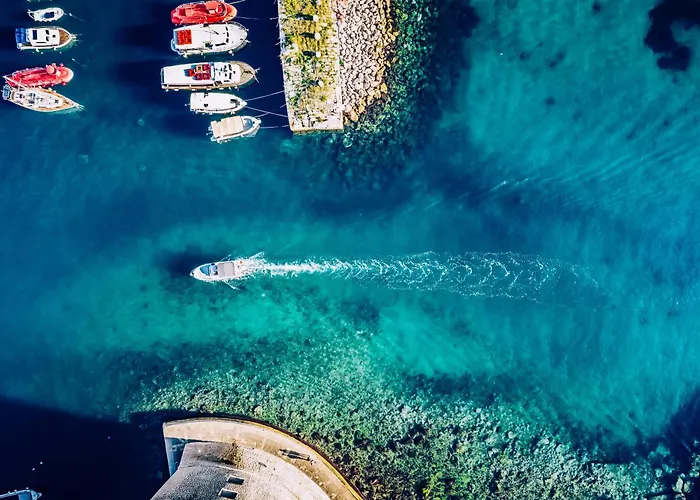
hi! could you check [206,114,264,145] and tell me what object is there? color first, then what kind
white boat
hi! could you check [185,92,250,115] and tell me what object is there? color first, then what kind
white boat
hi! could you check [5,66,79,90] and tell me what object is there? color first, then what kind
red boat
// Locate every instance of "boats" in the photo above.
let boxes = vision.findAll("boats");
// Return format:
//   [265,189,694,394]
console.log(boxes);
[0,80,87,114]
[170,19,252,58]
[161,57,262,93]
[15,25,80,52]
[185,92,250,115]
[187,260,252,281]
[171,0,239,26]
[5,66,79,90]
[26,6,67,24]
[206,114,264,145]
